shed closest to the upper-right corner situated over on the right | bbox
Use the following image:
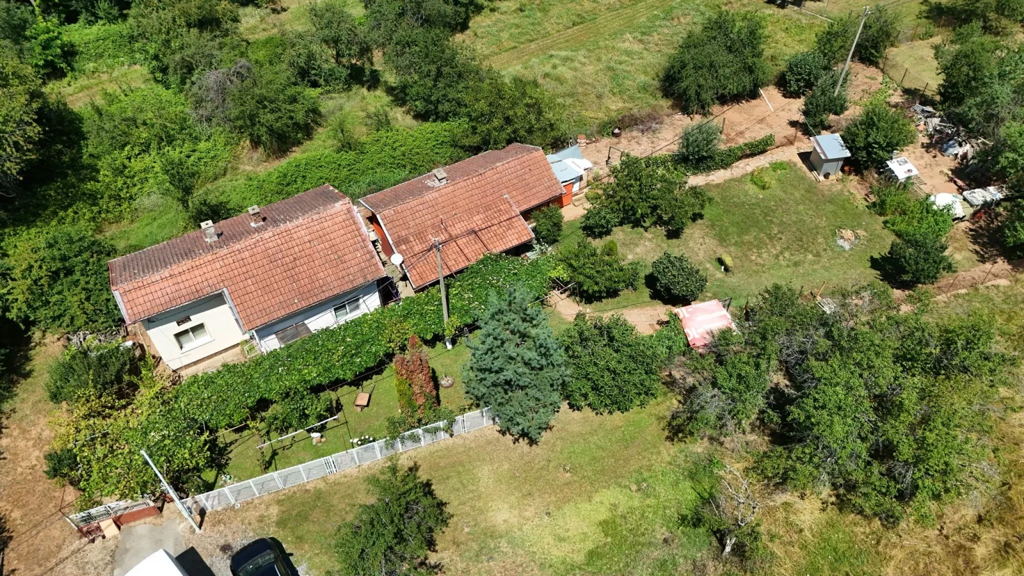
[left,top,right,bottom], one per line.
[810,134,850,181]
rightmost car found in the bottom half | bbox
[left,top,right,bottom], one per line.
[232,533,291,576]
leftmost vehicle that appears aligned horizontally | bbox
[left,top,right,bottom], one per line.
[126,553,183,576]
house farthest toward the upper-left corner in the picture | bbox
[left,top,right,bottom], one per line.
[105,187,391,367]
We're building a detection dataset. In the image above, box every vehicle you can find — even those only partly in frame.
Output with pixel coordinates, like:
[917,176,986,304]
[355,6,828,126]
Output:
[126,553,183,576]
[232,533,291,576]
